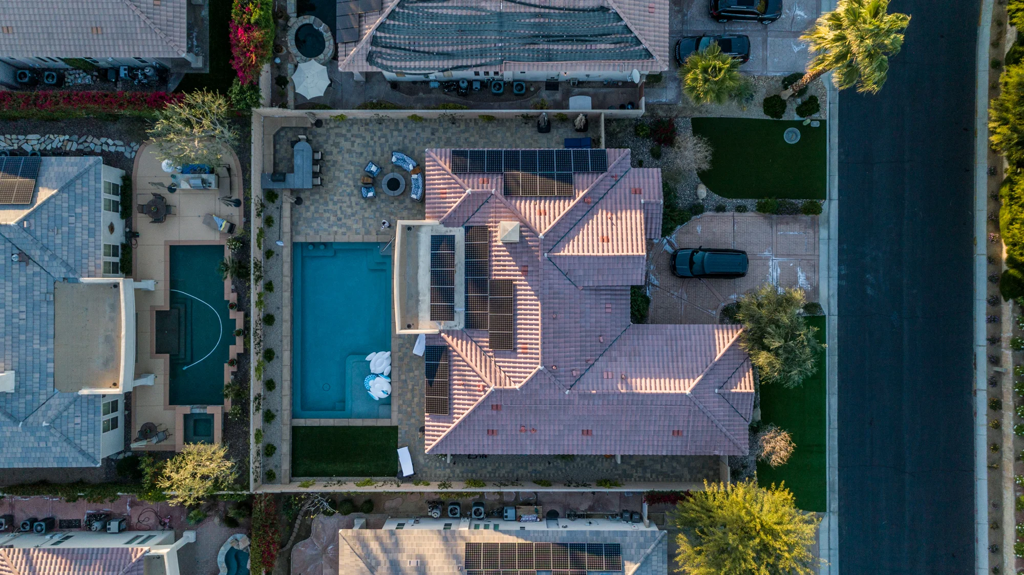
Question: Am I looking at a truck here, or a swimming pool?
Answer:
swimming pool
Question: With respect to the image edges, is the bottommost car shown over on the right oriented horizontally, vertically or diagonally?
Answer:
horizontally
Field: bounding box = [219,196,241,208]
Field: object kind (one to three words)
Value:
umbrella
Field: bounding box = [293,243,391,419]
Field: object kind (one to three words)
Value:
swimming pool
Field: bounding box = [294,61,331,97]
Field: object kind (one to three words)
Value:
umbrella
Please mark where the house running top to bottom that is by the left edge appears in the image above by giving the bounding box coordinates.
[0,155,154,469]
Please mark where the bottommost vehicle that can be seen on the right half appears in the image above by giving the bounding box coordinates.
[671,244,749,282]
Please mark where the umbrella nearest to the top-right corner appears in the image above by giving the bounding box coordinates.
[574,114,588,133]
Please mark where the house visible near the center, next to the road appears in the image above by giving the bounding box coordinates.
[395,147,755,473]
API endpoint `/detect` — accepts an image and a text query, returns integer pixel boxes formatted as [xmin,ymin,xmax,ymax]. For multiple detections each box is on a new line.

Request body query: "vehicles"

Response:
[671,244,749,282]
[674,29,750,68]
[712,0,787,23]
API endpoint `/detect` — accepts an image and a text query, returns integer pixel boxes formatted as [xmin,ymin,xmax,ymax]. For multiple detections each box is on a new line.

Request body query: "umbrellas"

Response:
[219,196,241,208]
[294,61,331,97]
[574,114,588,133]
[537,113,551,133]
[131,436,158,447]
[306,113,324,128]
[149,182,176,192]
[285,194,304,205]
